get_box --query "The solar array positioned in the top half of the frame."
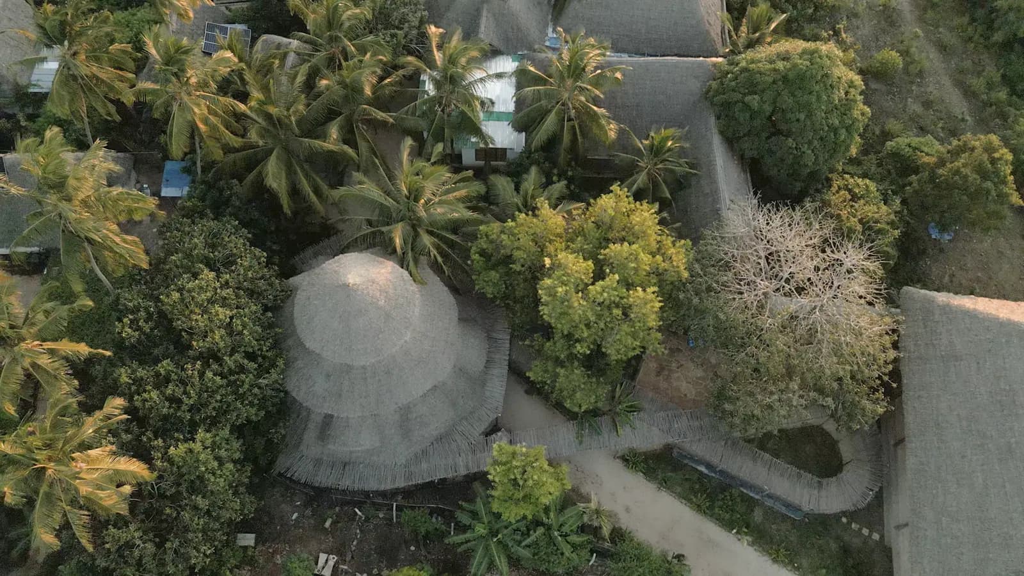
[202,22,255,69]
